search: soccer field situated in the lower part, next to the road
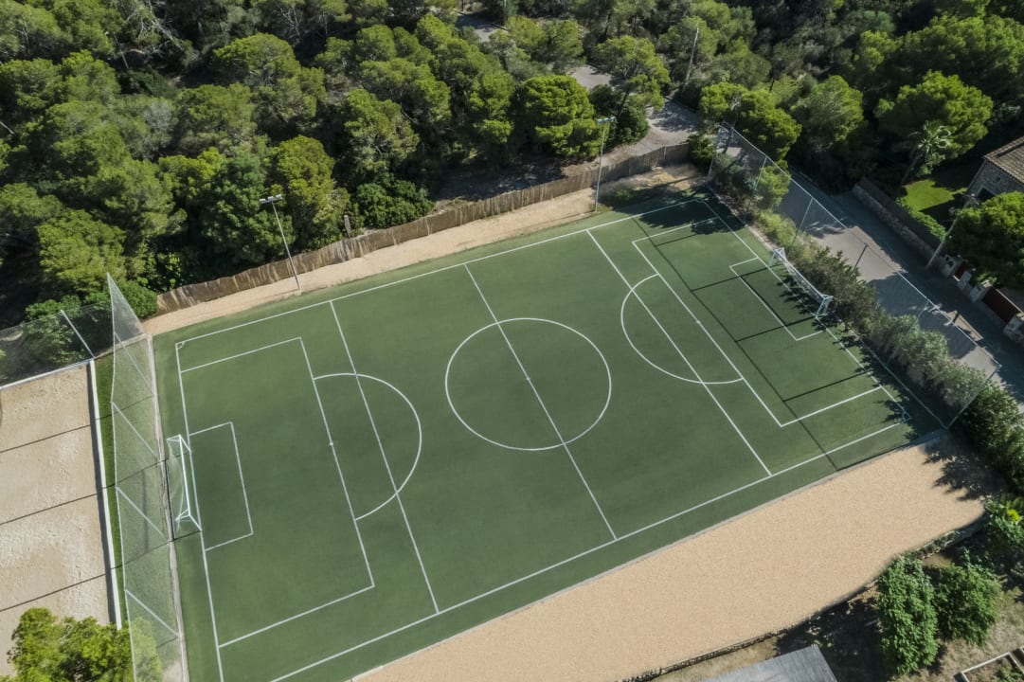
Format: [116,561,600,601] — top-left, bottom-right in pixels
[152,179,947,682]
